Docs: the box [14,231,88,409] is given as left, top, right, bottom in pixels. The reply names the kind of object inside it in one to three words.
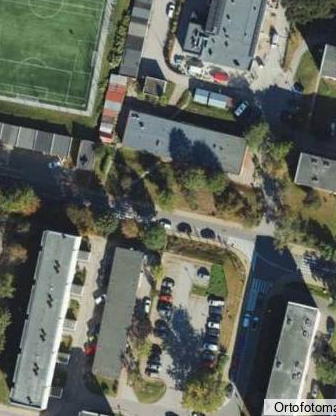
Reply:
building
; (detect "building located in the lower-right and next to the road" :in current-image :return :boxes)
[263,303,320,416]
